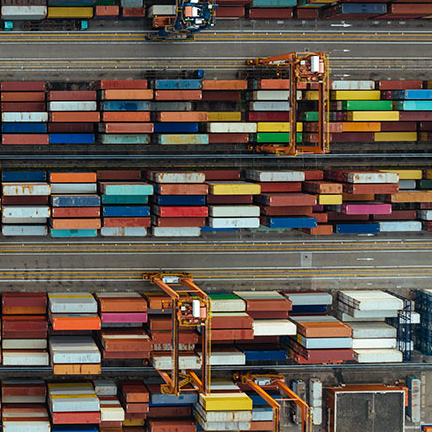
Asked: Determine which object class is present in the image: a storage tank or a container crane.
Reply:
container crane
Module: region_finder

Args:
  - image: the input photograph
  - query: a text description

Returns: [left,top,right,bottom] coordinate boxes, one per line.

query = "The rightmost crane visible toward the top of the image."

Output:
[250,51,333,156]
